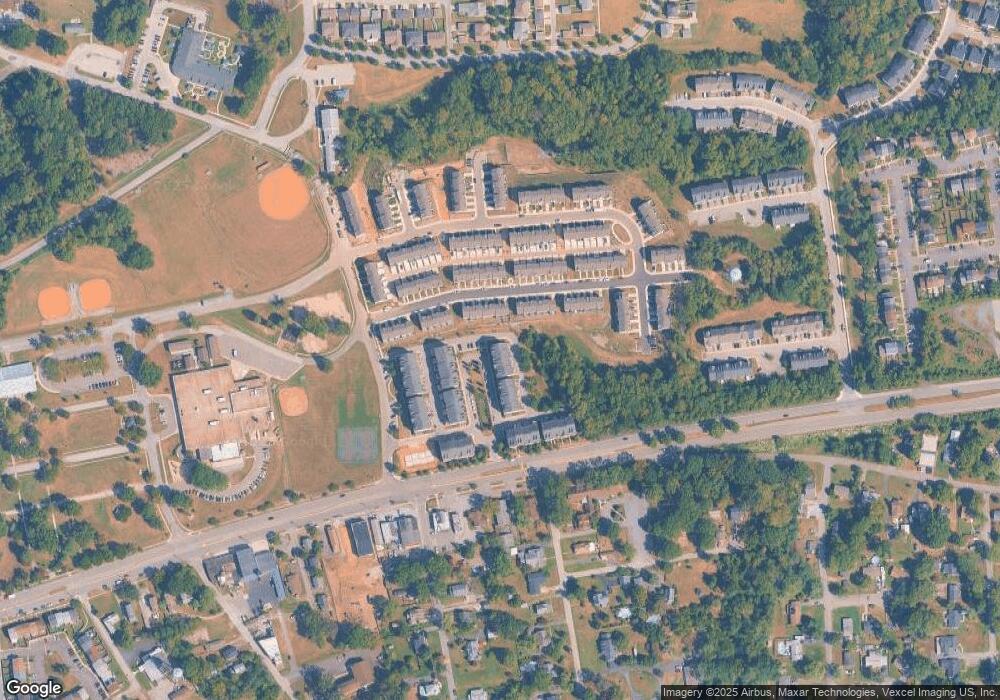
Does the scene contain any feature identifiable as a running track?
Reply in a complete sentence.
No, the frame has no running track in it.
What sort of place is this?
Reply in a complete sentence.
This looks like a residential area.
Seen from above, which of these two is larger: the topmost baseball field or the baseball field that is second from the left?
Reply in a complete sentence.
Compared with the baseball field that is second from the left, the topmost baseball field is the larger one.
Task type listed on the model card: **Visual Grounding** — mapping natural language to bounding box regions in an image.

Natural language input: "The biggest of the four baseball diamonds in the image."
[259,164,310,221]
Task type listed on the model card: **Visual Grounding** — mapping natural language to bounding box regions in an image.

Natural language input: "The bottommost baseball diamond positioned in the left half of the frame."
[279,387,309,416]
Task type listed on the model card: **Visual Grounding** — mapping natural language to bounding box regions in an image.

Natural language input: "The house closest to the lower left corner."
[10,658,27,681]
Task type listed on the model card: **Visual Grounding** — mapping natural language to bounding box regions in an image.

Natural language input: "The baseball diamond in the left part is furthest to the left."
[39,286,71,319]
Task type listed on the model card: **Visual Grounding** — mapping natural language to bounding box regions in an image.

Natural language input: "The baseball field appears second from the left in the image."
[79,278,111,312]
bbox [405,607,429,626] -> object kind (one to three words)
house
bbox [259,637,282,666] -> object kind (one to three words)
building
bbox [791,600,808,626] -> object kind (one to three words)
house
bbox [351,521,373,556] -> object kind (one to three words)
building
